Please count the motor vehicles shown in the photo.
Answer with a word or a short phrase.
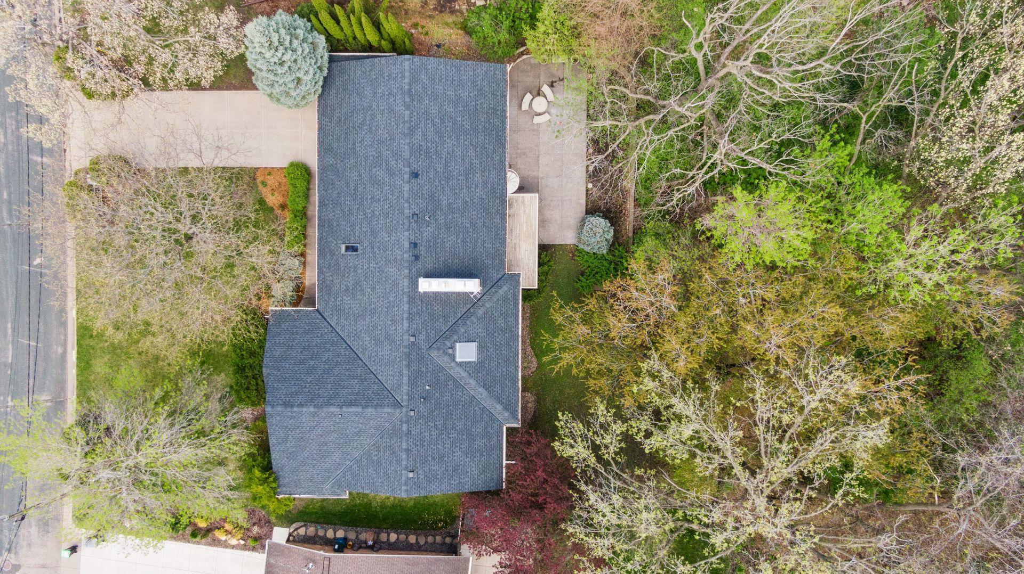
zero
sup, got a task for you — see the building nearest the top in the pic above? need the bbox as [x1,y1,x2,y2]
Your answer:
[264,51,523,500]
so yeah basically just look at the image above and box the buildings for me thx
[264,51,523,500]
[260,537,474,574]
